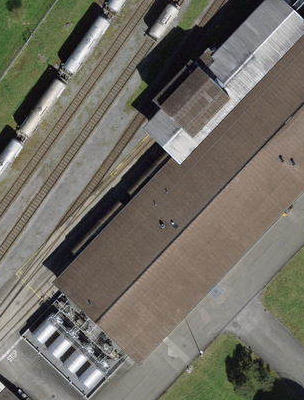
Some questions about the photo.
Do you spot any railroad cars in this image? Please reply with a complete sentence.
Yes, a railroad car appears in the view.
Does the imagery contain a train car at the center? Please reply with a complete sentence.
Yes, you'll find a train car at the center.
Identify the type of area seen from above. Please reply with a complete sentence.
What you see here is an industrial area.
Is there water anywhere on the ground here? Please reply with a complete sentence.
No, water can't be seen anywhere here.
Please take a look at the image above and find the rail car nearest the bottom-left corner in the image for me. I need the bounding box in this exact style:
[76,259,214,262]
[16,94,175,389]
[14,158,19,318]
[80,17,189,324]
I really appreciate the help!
[73,202,127,258]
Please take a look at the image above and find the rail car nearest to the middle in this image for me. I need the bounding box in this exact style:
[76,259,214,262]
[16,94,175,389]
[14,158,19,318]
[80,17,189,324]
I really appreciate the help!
[126,153,174,204]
